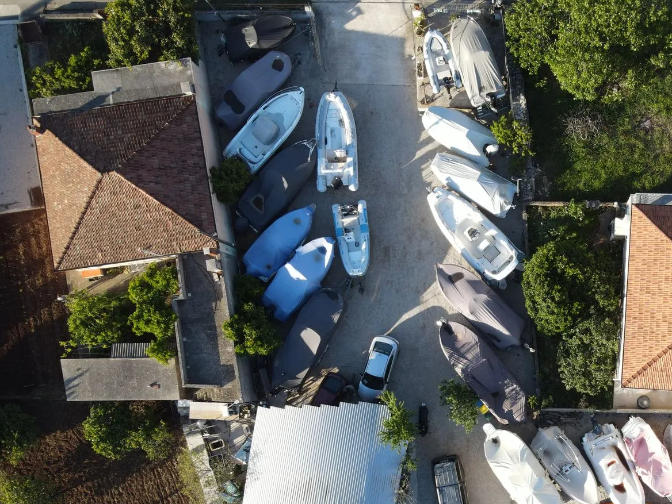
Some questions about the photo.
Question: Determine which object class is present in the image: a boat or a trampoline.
boat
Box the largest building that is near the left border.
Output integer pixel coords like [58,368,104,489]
[19,91,236,273]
